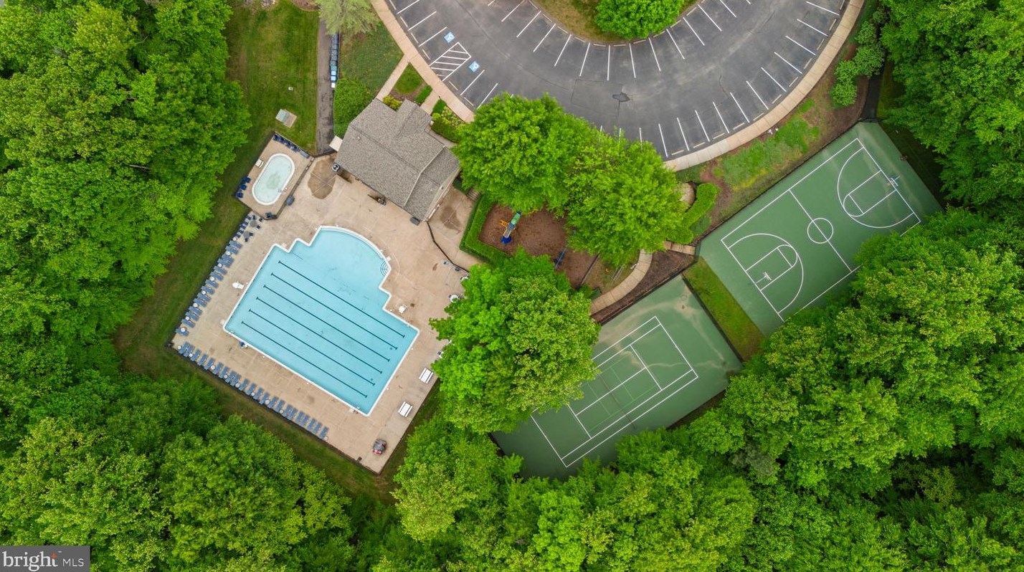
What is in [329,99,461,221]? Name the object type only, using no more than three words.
building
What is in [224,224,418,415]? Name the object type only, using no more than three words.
swimming pool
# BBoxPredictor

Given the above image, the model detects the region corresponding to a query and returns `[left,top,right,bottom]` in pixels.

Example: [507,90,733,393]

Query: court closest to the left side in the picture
[483,279,751,502]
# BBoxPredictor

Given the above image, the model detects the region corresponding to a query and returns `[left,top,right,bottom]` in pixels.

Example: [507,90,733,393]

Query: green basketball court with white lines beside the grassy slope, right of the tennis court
[697,119,945,351]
